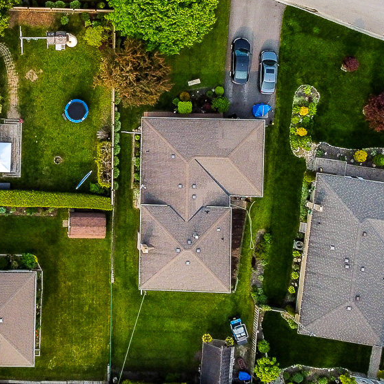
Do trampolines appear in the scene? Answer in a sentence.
Yes, there's a trampoline here.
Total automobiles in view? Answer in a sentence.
I count 2 automobiles.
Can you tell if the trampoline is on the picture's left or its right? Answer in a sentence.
You can find the trampoline on the left side of the picture.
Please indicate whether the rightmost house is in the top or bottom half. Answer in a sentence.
You can find the rightmost house in the bottom half.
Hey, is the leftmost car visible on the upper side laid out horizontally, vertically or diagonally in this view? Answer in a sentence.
In this picture, the leftmost car visible on the upper side is oriented vertically.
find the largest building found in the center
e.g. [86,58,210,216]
[120,116,266,294]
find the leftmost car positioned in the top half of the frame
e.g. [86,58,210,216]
[228,37,251,85]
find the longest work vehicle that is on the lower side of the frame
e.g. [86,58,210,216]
[228,314,248,347]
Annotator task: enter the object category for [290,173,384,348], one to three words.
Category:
house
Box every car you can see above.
[228,37,251,85]
[256,50,278,94]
